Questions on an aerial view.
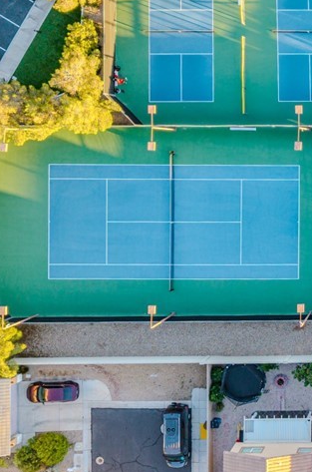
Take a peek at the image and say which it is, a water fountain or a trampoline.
trampoline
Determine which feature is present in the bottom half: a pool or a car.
car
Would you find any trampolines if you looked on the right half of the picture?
Yes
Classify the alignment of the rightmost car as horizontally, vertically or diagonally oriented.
vertically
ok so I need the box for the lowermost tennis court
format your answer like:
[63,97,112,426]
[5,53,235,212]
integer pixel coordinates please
[0,127,312,315]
